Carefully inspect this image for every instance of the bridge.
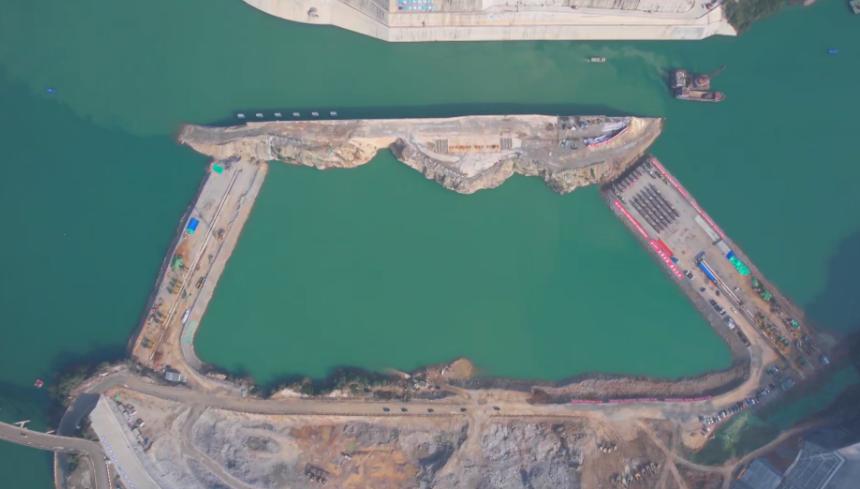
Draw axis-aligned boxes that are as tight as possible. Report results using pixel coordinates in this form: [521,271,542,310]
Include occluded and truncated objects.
[0,420,83,456]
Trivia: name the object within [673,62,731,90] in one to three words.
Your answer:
ship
